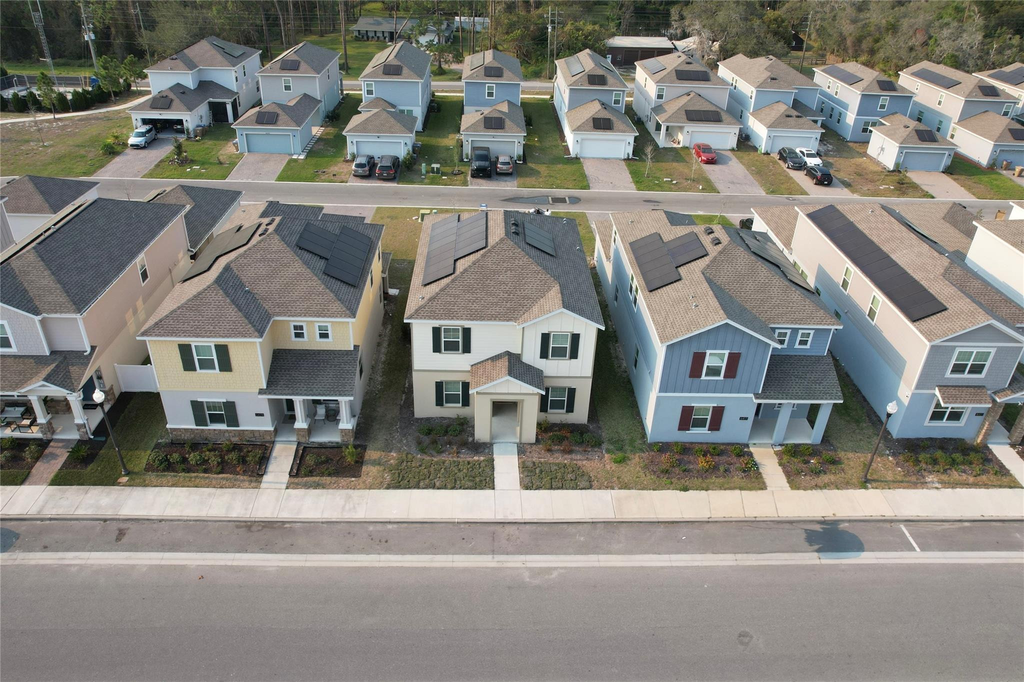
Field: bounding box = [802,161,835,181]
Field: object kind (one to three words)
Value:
car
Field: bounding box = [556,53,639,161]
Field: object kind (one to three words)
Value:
house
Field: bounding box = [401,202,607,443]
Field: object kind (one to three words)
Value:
house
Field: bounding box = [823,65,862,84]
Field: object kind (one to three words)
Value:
solar array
